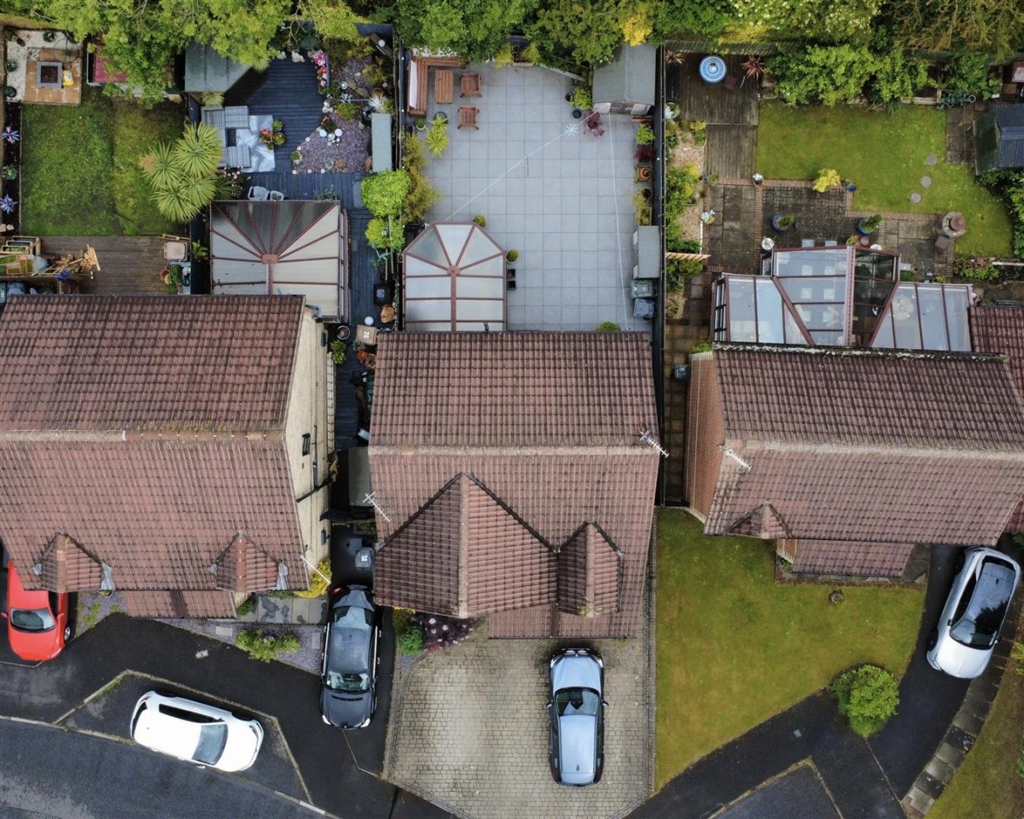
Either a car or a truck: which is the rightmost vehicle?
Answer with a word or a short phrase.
car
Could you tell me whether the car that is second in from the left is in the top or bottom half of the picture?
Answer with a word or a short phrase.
bottom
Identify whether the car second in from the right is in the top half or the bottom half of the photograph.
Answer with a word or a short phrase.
bottom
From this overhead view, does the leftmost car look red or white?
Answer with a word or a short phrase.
red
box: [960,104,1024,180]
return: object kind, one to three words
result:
shed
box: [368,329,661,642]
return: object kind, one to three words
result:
house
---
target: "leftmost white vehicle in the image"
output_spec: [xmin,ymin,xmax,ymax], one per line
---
[132,690,264,773]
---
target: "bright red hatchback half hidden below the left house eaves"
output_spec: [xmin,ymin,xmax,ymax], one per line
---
[4,571,71,662]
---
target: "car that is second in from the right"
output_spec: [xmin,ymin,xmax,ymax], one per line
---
[544,648,610,787]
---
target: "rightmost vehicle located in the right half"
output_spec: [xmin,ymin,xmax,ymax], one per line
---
[926,546,1018,677]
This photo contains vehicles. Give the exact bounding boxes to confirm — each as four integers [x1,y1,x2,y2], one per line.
[132,690,264,773]
[4,571,71,662]
[926,546,1018,677]
[315,585,382,727]
[544,648,610,787]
